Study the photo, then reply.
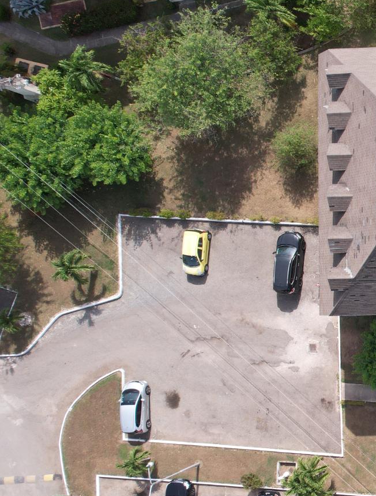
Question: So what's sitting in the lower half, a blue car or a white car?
white car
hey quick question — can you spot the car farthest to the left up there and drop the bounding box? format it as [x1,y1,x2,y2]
[111,380,150,436]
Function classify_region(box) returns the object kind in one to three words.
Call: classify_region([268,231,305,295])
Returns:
car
